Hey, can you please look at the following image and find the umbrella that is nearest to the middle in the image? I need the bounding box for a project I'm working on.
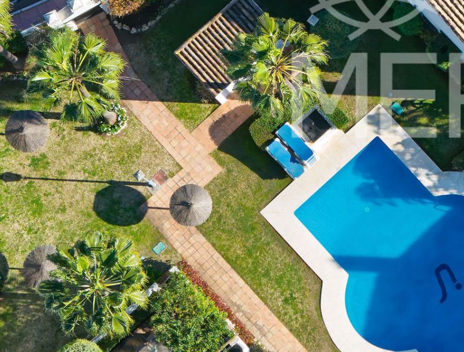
[168,182,213,228]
